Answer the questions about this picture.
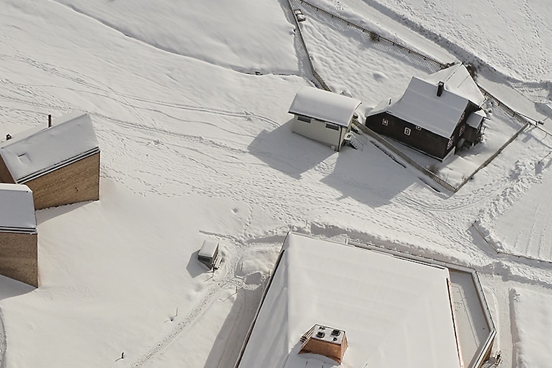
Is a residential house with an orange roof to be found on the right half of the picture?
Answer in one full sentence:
No, the scene shows no residential house with an orange roof on the right half of the picture.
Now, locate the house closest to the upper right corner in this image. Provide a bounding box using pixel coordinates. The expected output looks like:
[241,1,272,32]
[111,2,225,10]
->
[362,60,489,163]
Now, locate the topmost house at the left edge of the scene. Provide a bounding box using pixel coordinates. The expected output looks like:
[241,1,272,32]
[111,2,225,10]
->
[0,110,100,212]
